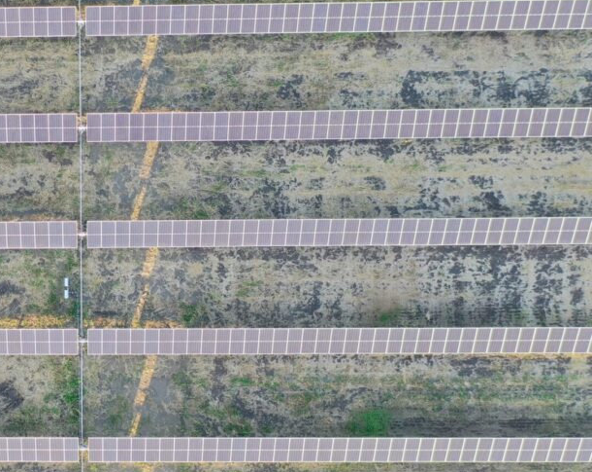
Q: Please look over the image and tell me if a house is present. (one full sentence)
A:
No, the picture doesn't show any house.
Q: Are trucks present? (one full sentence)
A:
No, there appears to be no truck in this shot.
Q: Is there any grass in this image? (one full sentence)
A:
Yes, some grass is visible.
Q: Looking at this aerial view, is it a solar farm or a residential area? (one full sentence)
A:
The picture captures a solar farm.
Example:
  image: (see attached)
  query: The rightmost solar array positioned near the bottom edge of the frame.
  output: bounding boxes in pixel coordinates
[88,438,592,461]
